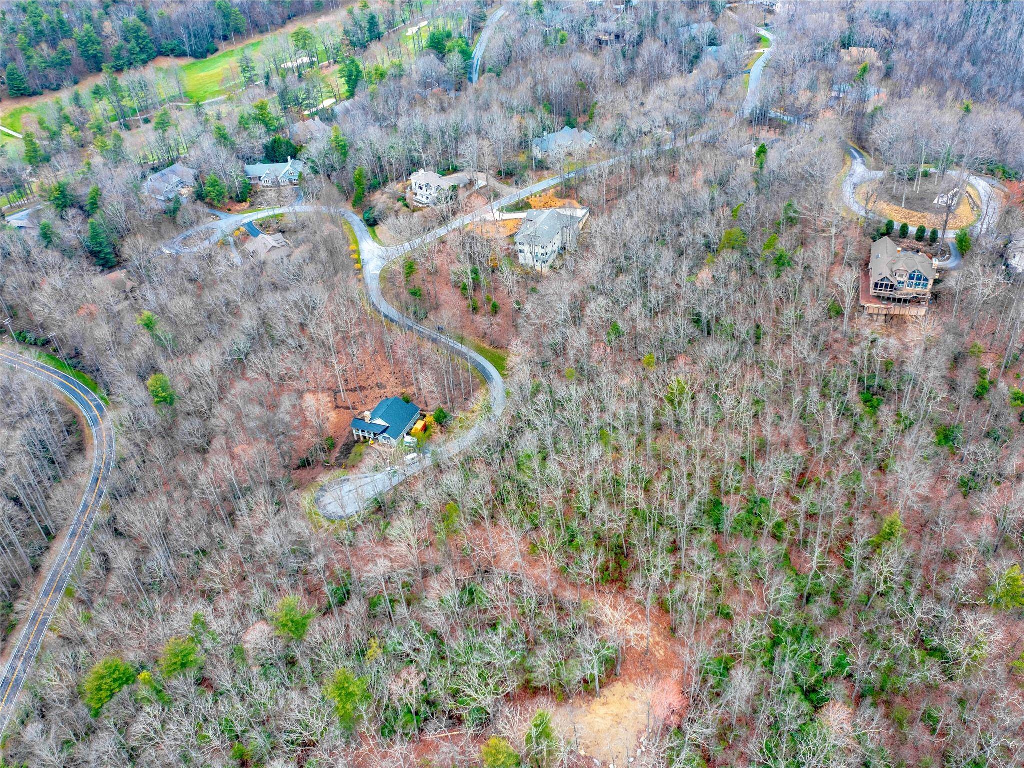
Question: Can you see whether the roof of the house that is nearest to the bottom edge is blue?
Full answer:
Yes, the roof of the house that is nearest to the bottom edge appears blue.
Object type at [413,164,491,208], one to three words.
house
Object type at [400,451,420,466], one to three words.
vehicle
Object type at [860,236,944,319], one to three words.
house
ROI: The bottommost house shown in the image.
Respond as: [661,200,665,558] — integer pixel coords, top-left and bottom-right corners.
[346,394,423,448]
